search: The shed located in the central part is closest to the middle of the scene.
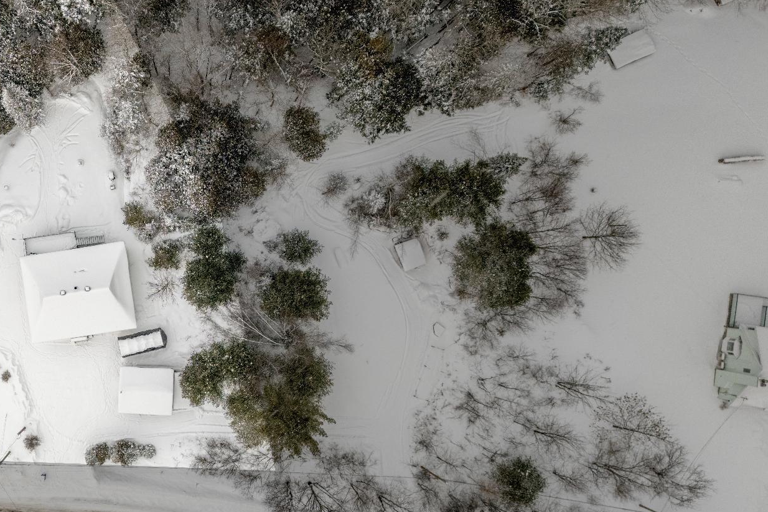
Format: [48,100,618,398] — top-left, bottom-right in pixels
[392,238,426,271]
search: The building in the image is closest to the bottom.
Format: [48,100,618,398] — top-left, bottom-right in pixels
[118,366,190,415]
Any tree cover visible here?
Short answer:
Yes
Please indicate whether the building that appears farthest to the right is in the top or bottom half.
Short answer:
bottom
